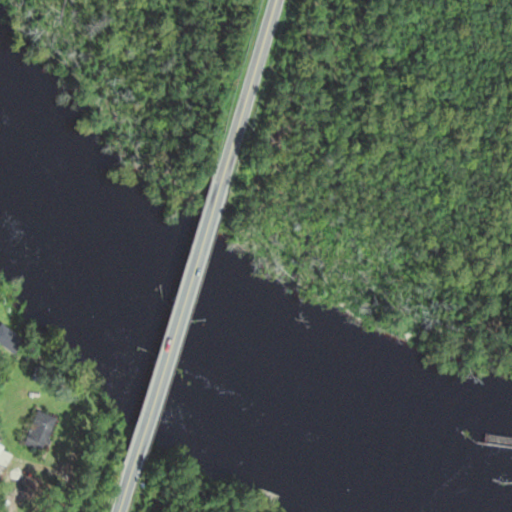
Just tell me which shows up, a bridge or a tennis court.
bridge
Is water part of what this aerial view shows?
Yes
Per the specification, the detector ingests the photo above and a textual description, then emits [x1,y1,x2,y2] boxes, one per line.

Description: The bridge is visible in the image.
[124,174,234,475]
